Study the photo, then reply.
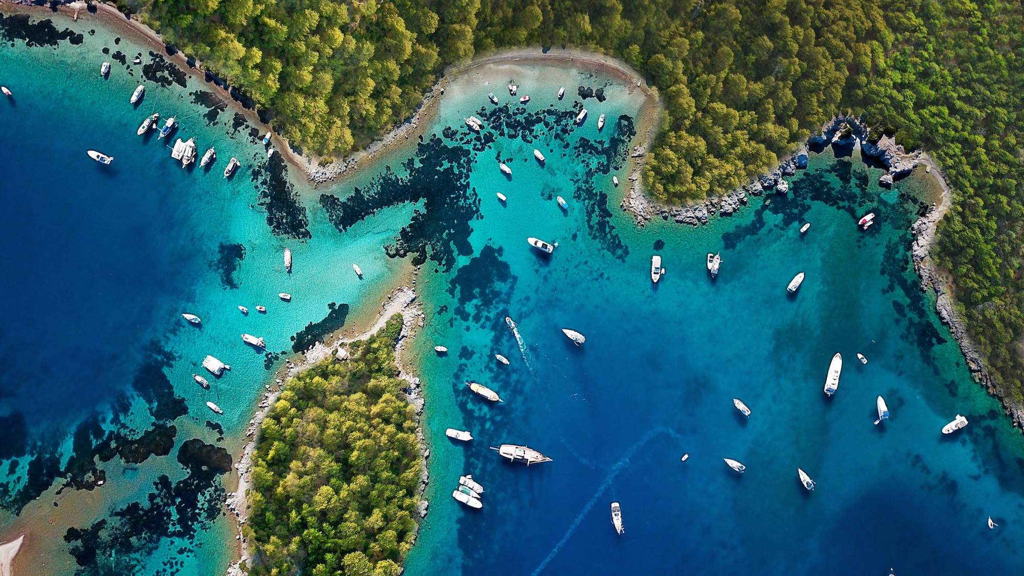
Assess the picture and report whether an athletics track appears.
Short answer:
No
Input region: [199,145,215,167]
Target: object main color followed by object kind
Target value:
white boat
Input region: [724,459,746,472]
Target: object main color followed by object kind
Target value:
white boat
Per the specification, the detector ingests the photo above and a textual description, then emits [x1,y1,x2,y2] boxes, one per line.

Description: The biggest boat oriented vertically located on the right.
[825,354,843,398]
